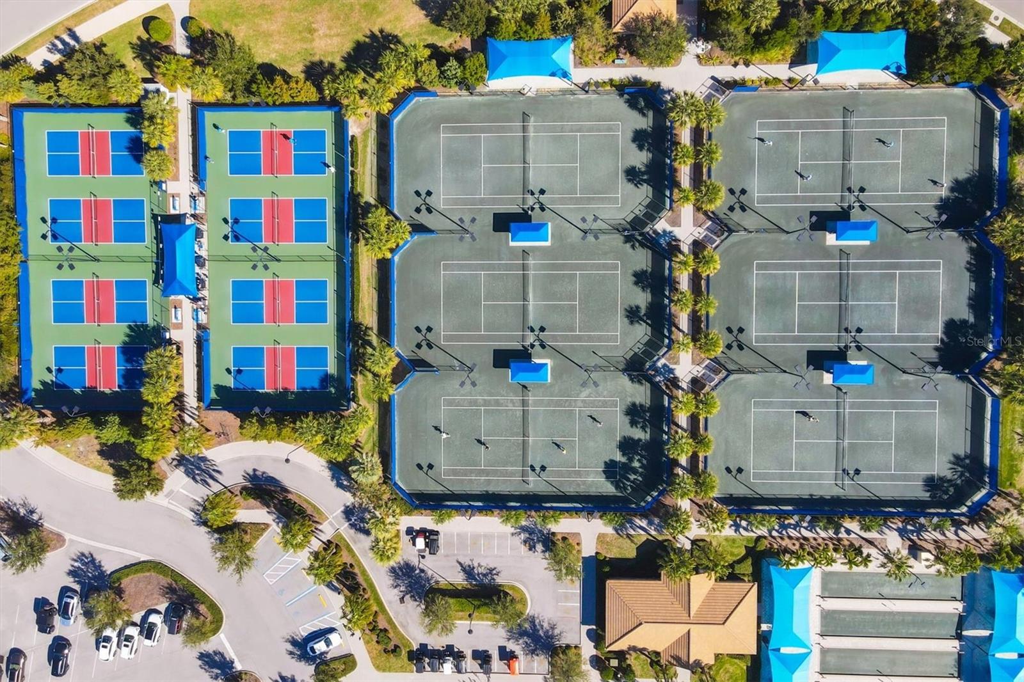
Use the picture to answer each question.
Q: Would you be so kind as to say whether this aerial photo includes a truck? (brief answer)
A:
No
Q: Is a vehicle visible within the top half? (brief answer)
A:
No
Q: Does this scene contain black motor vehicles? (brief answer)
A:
Yes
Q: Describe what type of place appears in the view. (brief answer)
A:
sports ground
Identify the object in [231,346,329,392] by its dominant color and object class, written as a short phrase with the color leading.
blue sports court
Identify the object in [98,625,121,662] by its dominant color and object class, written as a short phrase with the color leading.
white car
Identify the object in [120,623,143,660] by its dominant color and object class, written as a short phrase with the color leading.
white car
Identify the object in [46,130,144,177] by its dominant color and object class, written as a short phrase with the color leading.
blue sports court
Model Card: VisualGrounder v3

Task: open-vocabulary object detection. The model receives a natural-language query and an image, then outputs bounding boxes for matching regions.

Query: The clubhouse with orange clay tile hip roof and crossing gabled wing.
[605,567,759,671]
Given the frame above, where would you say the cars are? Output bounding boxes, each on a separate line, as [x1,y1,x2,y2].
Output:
[4,650,28,682]
[142,609,165,646]
[164,599,186,635]
[0,533,14,567]
[98,625,121,662]
[120,623,143,660]
[58,590,81,626]
[34,601,59,634]
[307,629,343,655]
[50,638,74,675]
